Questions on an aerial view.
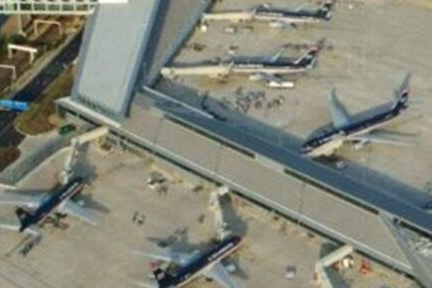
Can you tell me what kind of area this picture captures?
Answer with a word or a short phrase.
airport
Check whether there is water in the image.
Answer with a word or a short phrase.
No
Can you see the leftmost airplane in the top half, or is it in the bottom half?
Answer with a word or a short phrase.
bottom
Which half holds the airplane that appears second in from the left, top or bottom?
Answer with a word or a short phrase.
bottom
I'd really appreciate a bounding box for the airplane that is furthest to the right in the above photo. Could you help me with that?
[299,86,421,159]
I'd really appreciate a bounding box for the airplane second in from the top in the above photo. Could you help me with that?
[209,41,314,92]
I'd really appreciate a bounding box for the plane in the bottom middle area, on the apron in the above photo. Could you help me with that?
[130,233,242,288]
